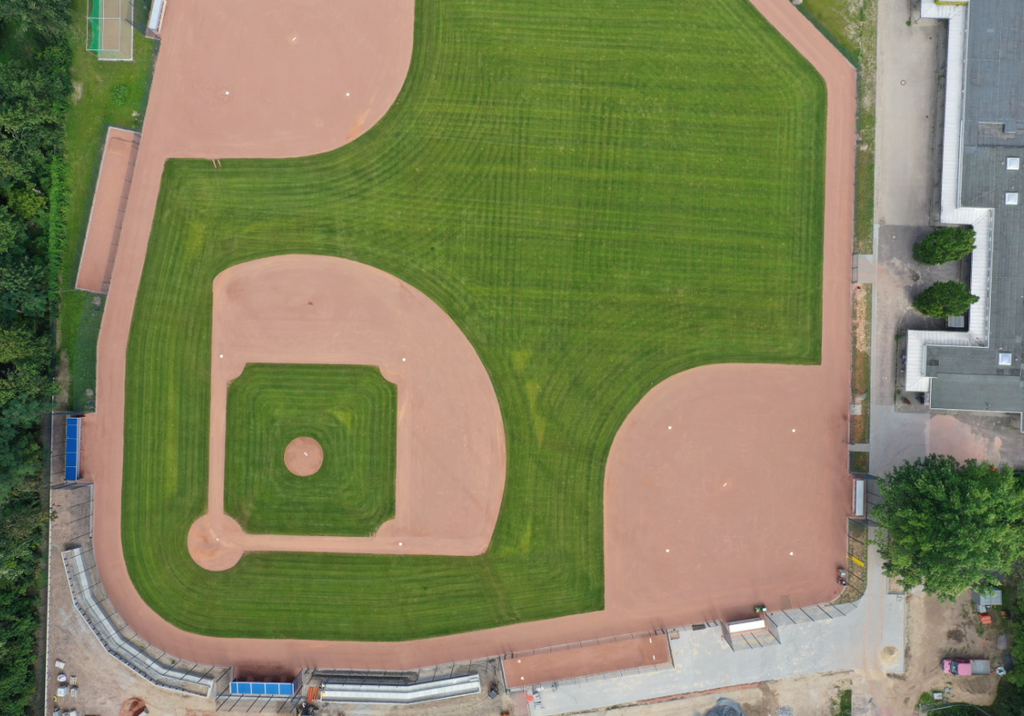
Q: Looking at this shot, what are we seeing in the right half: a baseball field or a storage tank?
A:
baseball field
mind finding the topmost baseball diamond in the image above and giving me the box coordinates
[145,0,413,157]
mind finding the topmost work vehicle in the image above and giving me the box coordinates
[838,571,850,588]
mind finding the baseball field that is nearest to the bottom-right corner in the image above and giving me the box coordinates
[605,364,845,633]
